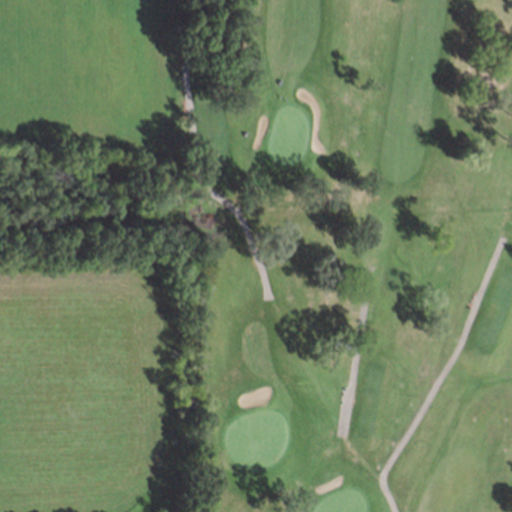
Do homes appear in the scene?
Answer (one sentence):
No, there is no home in the image.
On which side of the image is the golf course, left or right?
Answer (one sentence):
The golf course appears in the right half of the scene.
